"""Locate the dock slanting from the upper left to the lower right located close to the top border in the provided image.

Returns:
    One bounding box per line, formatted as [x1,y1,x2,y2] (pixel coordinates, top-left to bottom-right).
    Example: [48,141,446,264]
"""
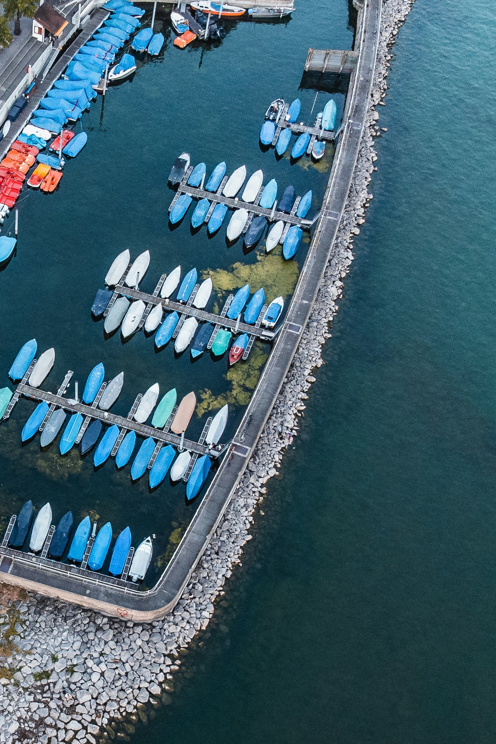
[173,10,212,44]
